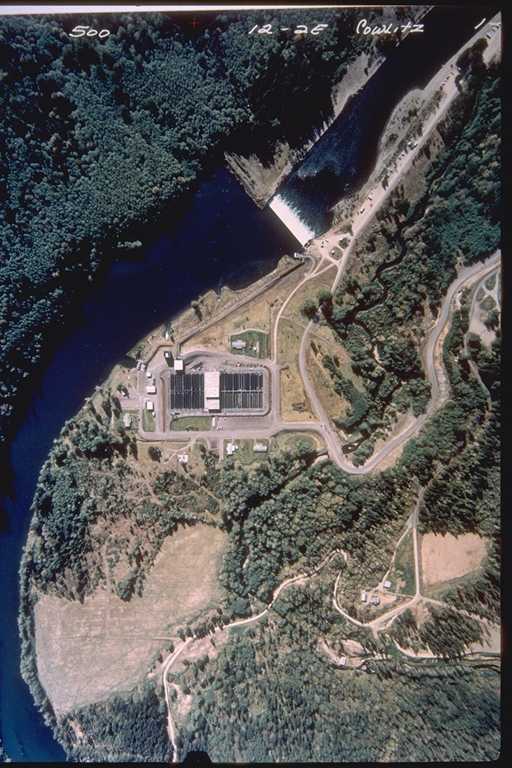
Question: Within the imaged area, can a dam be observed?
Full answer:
Yes, you can see a dam in this photo.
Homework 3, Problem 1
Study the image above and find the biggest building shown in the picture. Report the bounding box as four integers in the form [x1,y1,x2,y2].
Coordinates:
[205,370,220,410]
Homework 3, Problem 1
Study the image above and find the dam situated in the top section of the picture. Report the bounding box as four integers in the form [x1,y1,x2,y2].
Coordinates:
[265,194,314,256]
